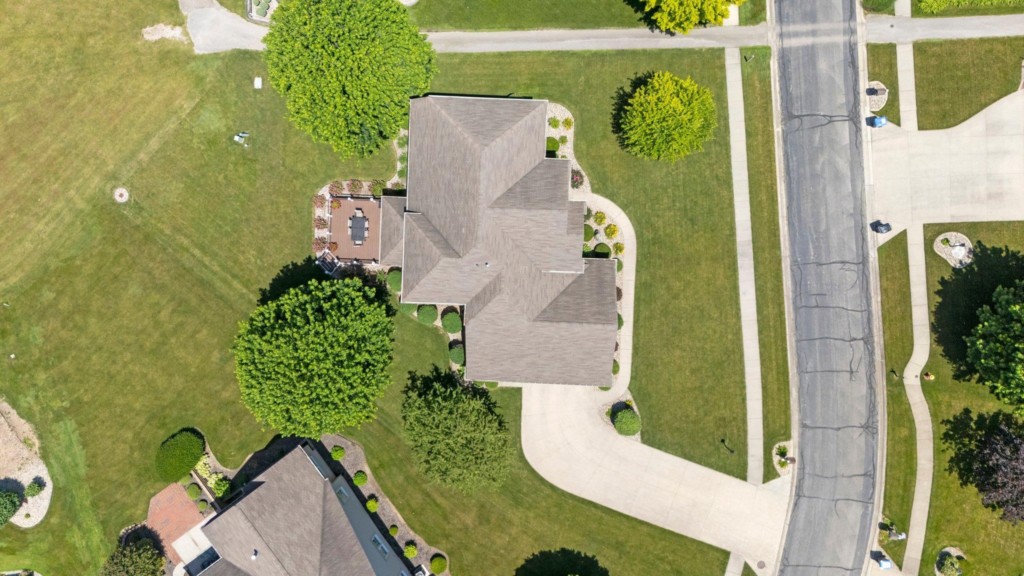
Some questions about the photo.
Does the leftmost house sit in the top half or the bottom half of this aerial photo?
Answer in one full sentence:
Seen from above, the leftmost house lies in the bottom half of the view.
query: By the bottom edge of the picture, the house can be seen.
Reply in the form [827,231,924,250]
[194,438,412,576]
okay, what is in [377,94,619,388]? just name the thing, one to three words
house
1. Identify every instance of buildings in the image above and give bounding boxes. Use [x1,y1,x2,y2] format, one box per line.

[377,94,619,388]
[194,438,412,576]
